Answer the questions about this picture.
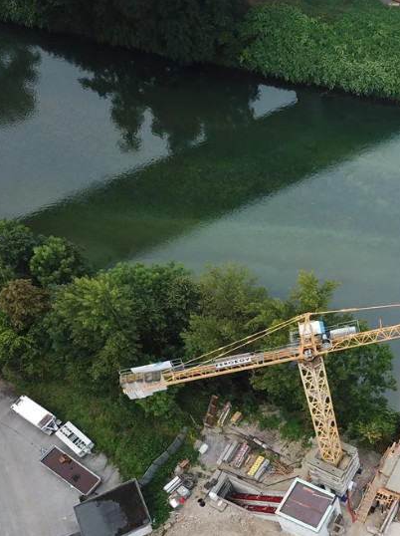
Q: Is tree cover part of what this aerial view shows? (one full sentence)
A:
Yes, tree cover can be seen from above here.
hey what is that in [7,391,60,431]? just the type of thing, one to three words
trailer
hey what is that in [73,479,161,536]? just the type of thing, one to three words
building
